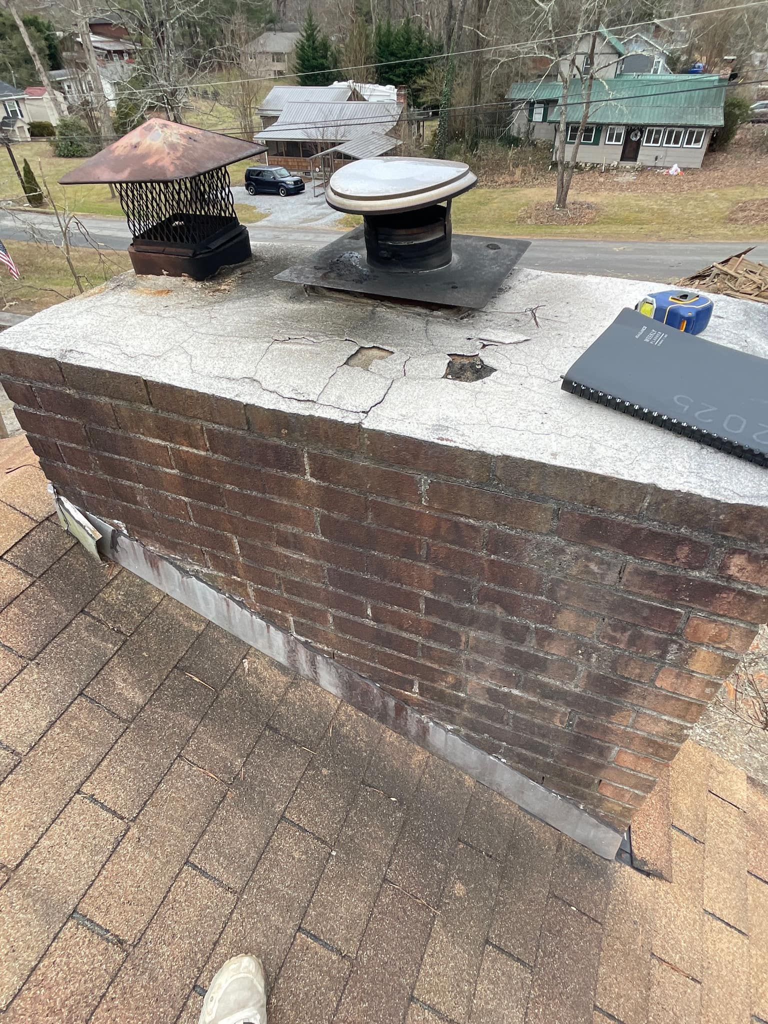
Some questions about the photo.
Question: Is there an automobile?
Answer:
Yes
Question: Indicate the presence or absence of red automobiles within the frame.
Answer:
No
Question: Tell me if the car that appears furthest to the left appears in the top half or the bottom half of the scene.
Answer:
top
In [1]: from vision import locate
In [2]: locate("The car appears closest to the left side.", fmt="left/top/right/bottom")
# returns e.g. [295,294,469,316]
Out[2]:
[237,163,304,200]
